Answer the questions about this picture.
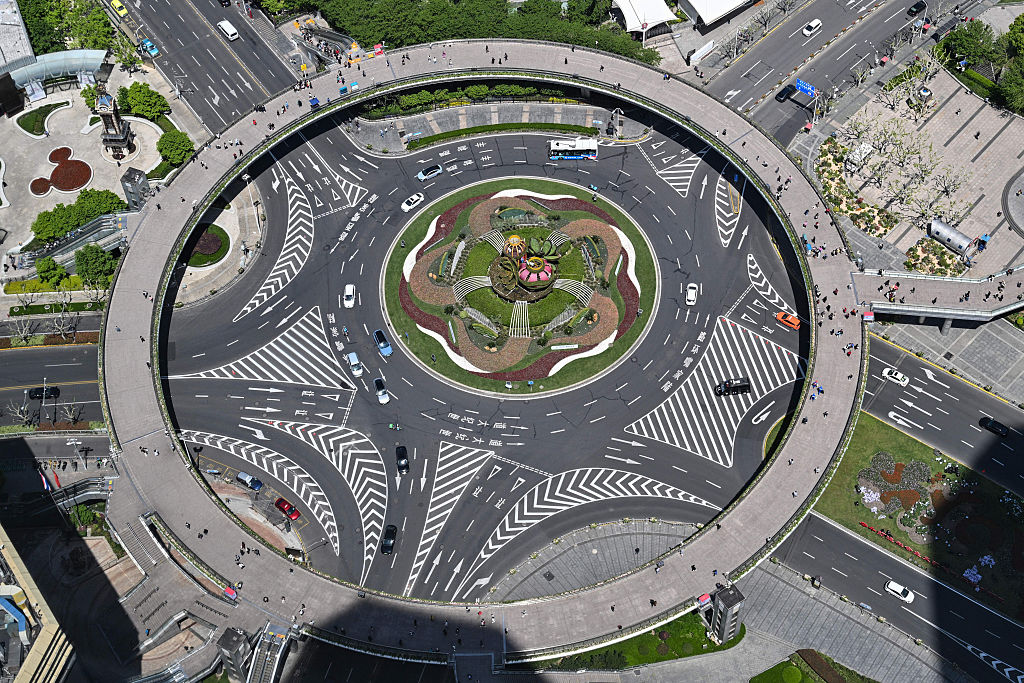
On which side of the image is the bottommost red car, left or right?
left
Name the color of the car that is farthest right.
black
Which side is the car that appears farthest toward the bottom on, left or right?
right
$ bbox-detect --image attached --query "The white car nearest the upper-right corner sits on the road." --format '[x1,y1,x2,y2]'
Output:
[803,18,822,35]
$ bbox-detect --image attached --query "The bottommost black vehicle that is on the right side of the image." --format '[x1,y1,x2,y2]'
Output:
[979,416,1009,436]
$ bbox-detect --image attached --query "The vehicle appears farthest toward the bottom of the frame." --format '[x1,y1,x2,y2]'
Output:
[884,579,916,603]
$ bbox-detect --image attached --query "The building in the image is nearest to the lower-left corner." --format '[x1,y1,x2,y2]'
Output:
[0,509,82,683]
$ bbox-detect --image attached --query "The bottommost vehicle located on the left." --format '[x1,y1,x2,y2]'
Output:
[381,524,396,553]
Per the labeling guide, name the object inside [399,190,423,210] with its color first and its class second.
white car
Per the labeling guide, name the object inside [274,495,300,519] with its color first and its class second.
red car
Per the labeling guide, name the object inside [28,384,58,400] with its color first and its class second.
black car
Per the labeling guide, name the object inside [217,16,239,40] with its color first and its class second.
white vehicle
